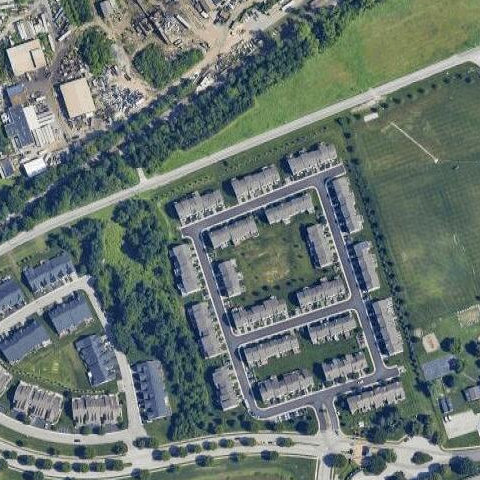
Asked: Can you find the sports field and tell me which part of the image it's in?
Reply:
right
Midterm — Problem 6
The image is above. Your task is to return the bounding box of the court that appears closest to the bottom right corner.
[422,354,455,381]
